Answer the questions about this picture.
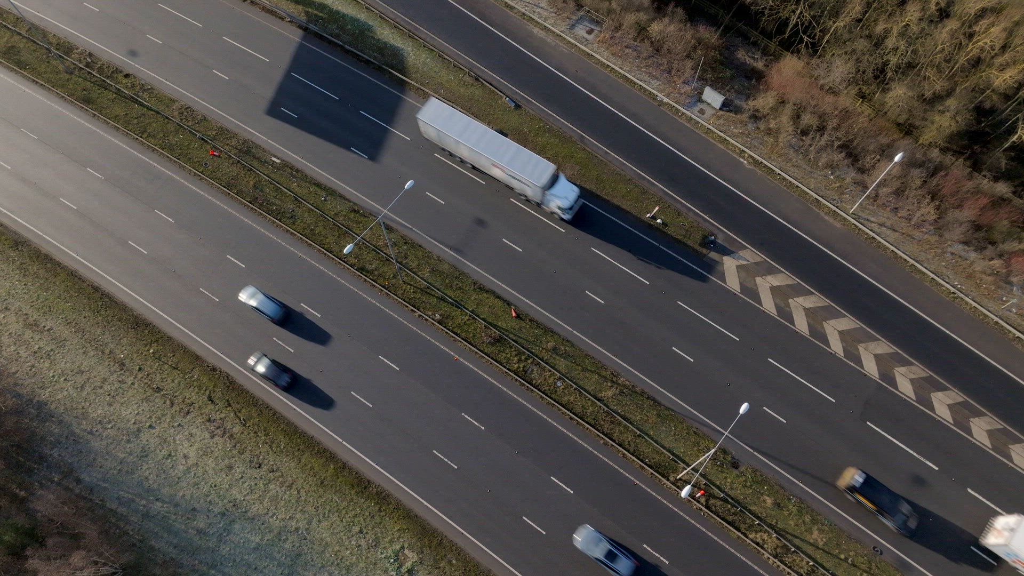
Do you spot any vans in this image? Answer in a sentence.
Yes, this view includes a van.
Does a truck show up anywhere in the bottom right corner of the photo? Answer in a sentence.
Yes, I can see a truck in the bottom right corner of the photo.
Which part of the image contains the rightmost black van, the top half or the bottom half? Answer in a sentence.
The bottom half of the photo is where the rightmost black van is.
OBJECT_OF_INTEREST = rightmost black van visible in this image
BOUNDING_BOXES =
[838,468,910,527]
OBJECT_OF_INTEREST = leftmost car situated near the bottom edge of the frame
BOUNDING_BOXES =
[578,526,636,576]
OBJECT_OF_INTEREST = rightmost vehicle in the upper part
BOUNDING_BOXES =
[417,98,581,221]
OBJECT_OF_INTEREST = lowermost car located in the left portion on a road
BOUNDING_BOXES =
[248,352,295,391]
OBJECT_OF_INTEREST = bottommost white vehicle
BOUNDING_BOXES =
[976,511,1024,571]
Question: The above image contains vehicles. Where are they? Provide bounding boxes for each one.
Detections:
[976,511,1024,571]
[248,352,295,391]
[417,98,581,221]
[240,287,288,325]
[578,526,636,576]
[838,468,910,527]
